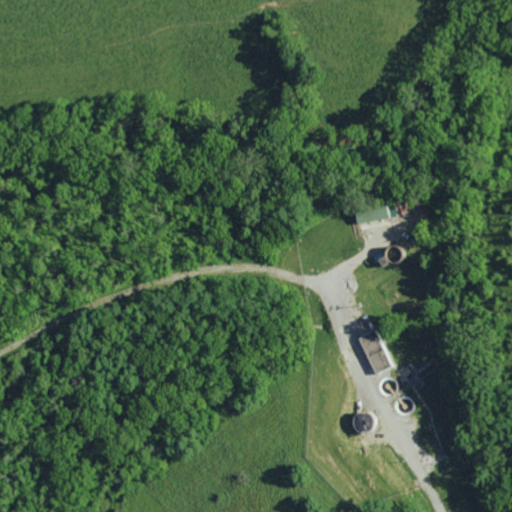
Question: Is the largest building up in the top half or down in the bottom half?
bottom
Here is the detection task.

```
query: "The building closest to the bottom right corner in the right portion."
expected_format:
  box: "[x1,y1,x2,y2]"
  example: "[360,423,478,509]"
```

[359,330,393,374]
